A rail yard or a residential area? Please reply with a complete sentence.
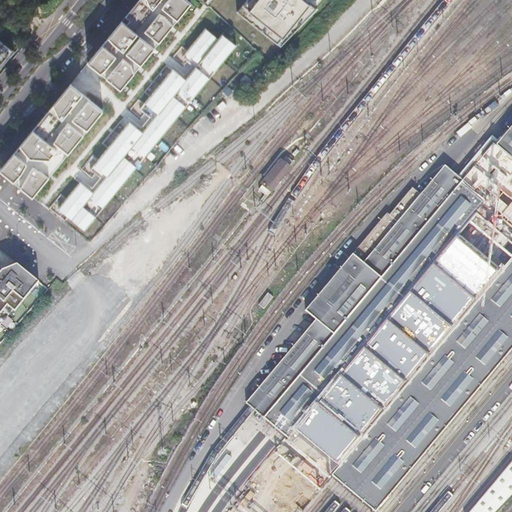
This image shows a rail yard.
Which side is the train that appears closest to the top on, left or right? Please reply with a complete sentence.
It is on the right.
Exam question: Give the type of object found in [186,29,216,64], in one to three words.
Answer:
building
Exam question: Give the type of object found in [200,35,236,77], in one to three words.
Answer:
building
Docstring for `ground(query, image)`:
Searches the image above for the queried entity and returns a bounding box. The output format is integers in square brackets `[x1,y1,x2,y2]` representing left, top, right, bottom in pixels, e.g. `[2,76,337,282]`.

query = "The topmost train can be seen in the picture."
[292,0,452,196]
